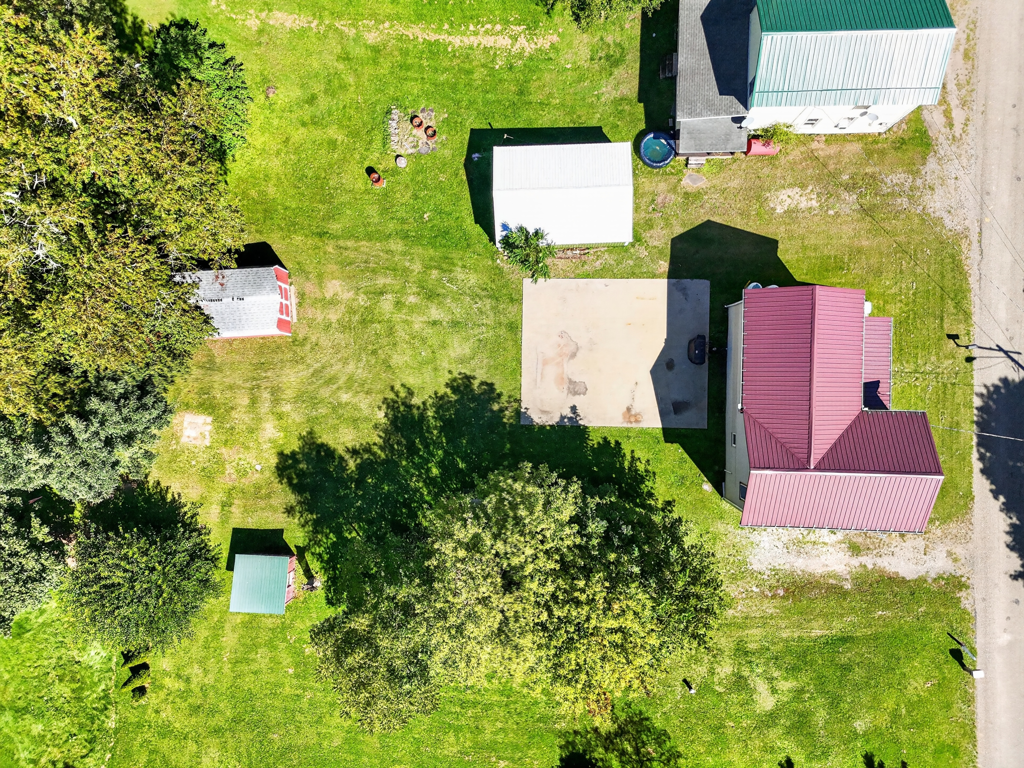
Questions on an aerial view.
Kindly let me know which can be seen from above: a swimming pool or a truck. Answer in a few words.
swimming pool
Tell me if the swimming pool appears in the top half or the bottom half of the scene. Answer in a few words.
top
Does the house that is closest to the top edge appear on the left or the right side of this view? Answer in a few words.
right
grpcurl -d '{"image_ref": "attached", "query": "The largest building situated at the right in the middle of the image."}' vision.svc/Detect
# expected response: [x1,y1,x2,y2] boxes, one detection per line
[715,285,943,534]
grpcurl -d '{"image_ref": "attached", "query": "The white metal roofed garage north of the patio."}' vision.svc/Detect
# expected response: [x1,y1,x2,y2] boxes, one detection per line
[493,142,634,253]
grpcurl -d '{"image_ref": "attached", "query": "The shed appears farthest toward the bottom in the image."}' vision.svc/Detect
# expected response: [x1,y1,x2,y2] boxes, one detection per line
[227,554,294,614]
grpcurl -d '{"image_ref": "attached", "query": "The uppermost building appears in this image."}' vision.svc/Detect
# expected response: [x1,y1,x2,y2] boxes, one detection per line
[648,0,957,172]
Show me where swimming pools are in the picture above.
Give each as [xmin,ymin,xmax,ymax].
[638,130,673,169]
